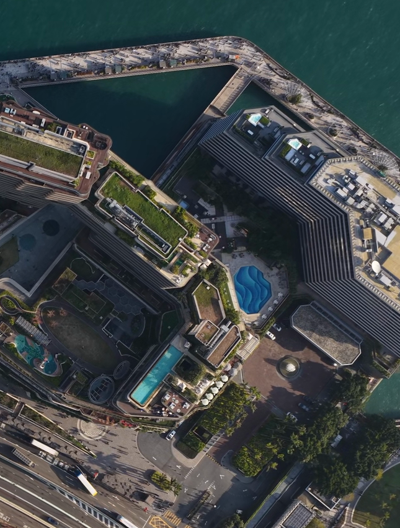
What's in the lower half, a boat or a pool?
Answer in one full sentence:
The feature located in the lower half is a pool.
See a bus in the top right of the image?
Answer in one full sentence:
No, the scene shows no bus in the top right of the image.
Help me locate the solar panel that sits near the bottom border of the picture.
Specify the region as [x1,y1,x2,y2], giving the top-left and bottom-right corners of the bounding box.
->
[283,504,310,528]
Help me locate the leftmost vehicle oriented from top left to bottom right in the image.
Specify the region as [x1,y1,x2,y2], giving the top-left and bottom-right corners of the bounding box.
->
[8,446,37,469]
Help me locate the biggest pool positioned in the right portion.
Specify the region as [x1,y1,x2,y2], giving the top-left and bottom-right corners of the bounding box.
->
[216,254,290,328]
